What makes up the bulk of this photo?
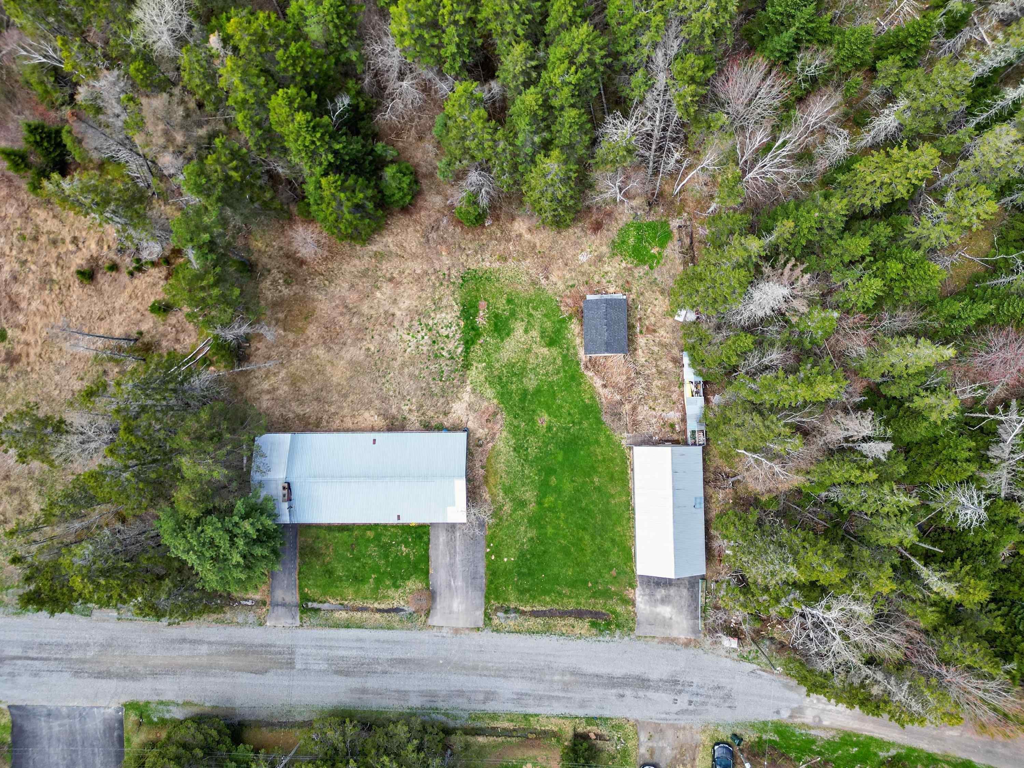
trees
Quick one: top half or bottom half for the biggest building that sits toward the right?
bottom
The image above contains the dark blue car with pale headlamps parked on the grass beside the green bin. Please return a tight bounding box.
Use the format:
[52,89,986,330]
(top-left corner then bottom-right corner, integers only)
[710,738,736,768]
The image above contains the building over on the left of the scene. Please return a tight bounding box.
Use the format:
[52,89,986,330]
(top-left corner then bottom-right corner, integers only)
[249,429,472,524]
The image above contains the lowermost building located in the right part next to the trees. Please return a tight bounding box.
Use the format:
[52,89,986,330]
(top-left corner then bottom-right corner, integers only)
[630,446,706,579]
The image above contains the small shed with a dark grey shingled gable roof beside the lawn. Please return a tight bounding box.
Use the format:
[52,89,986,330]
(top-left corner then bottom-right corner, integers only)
[583,294,628,360]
